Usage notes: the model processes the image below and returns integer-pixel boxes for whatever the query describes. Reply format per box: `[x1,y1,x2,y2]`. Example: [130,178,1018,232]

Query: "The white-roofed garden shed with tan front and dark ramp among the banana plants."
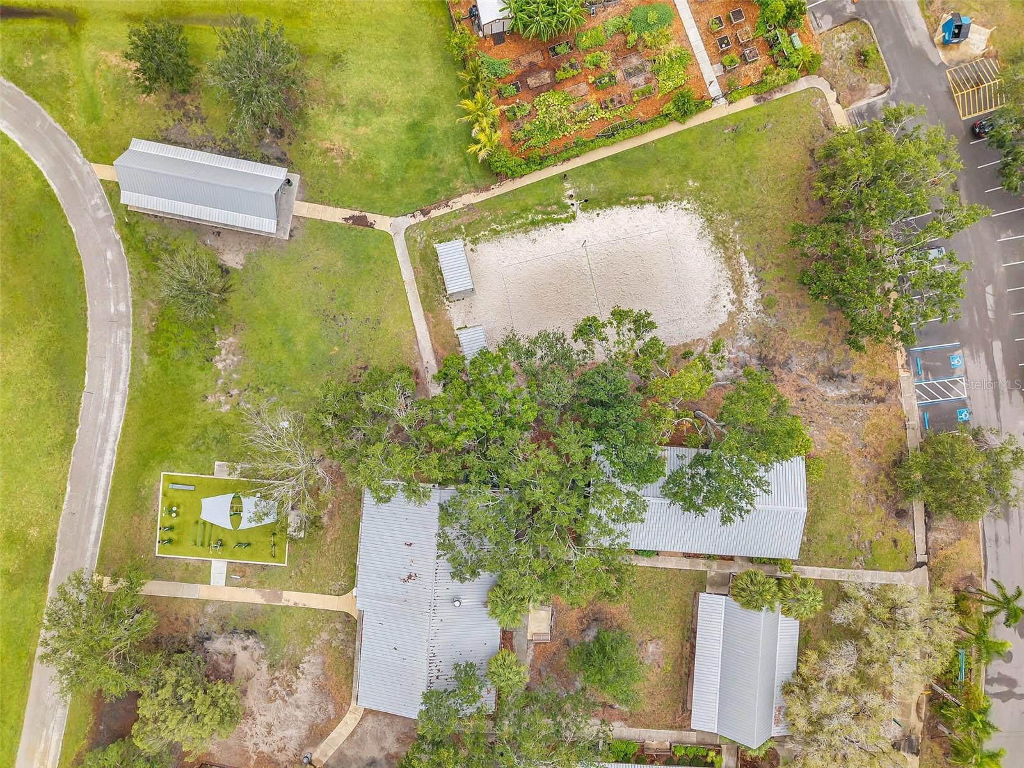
[480,0,512,44]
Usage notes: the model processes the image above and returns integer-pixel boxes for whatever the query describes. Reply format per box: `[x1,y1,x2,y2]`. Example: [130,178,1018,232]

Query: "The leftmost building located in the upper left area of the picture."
[113,138,288,234]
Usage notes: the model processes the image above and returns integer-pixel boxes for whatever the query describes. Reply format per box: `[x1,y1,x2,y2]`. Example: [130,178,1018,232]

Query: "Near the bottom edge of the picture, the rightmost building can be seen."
[690,592,800,749]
